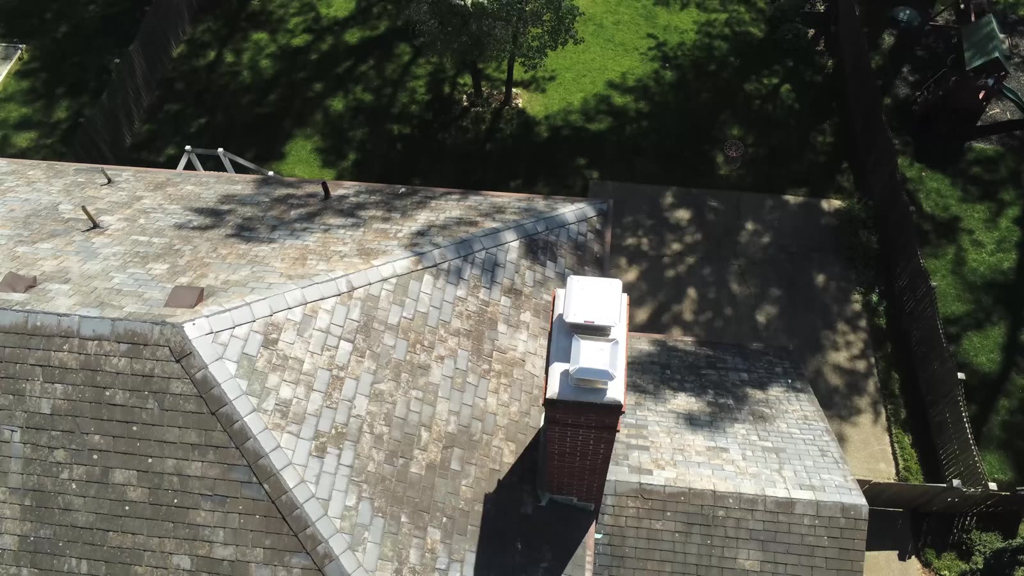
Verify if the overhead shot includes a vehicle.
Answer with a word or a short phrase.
No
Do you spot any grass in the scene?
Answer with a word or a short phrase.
Yes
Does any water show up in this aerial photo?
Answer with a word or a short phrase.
No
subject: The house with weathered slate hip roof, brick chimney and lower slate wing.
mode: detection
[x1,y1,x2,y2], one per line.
[0,158,870,576]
